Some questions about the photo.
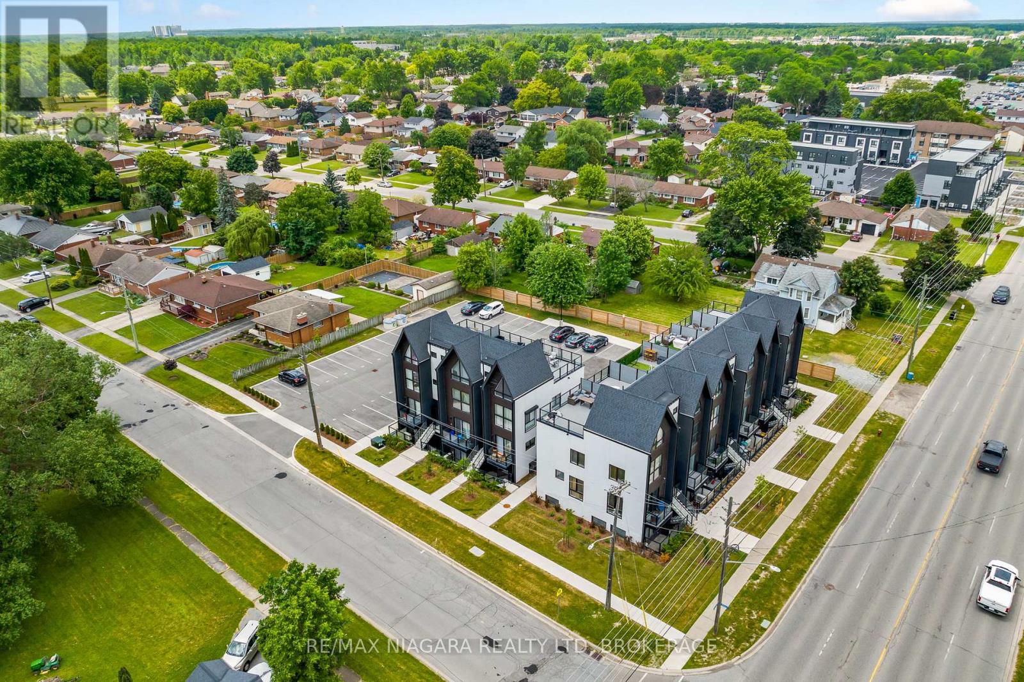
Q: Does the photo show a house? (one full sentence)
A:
Yes, a house can be made out from above.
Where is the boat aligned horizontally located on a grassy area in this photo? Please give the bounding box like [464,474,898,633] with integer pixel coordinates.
[83,222,113,236]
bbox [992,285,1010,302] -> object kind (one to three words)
car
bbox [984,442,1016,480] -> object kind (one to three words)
truck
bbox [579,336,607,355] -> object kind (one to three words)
car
